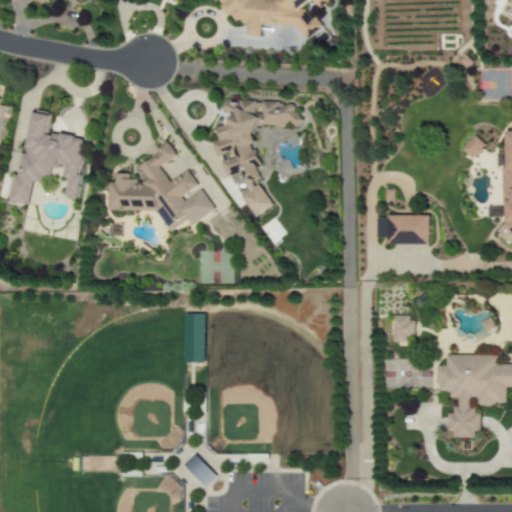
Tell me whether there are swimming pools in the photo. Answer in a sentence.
Yes, the picture does show a swimming pool.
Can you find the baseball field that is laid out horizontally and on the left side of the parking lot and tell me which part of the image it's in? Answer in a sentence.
The baseball field that is laid out horizontally and on the left side of the parking lot is in the bottom left part of the image.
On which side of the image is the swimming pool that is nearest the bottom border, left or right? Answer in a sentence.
It is on the right.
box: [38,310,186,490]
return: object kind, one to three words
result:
baseball field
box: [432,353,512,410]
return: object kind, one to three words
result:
house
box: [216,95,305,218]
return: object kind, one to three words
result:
house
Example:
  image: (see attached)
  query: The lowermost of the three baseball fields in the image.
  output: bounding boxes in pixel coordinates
[38,476,186,512]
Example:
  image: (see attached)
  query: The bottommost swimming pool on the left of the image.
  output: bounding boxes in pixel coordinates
[134,223,158,246]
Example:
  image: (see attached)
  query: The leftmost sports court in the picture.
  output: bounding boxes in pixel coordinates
[200,251,234,283]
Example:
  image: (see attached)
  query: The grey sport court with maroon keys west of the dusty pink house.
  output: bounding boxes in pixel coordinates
[386,360,436,388]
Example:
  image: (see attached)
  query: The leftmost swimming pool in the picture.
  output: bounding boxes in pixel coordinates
[44,202,68,219]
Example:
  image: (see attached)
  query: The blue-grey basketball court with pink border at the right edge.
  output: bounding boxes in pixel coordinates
[481,71,512,100]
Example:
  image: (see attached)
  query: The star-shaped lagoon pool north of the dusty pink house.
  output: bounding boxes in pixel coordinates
[455,309,490,340]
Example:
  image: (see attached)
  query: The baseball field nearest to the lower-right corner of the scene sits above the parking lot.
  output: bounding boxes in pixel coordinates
[207,309,333,454]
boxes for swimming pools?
[280,142,302,168]
[474,172,490,203]
[44,202,68,219]
[455,309,490,340]
[134,223,158,246]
